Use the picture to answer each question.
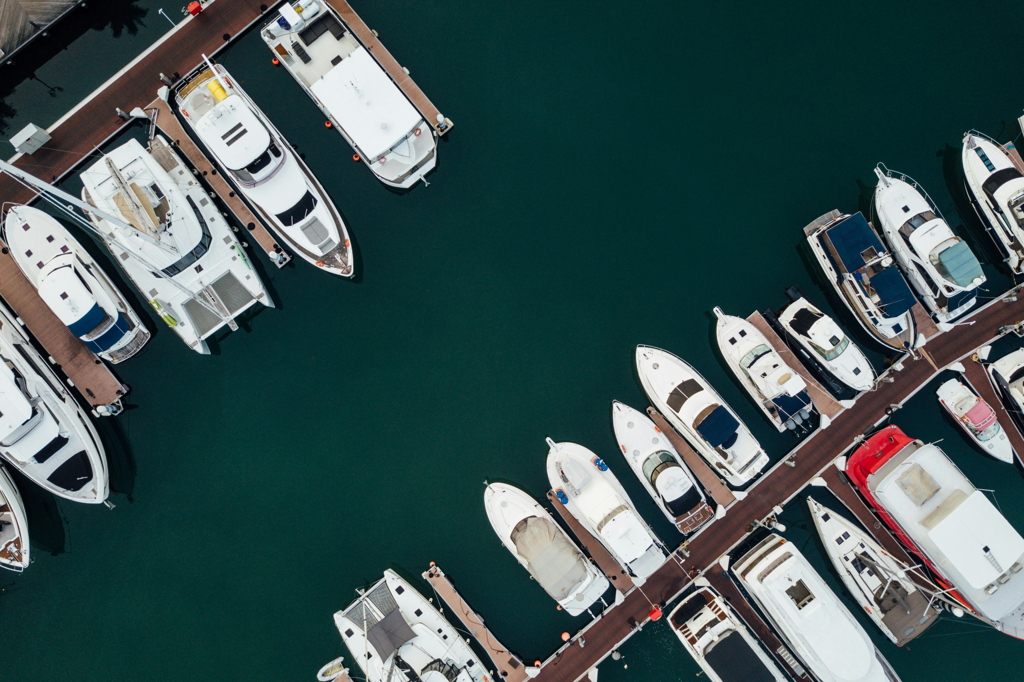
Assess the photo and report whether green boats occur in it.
Yes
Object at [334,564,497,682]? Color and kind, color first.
white boat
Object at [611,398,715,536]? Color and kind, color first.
white boat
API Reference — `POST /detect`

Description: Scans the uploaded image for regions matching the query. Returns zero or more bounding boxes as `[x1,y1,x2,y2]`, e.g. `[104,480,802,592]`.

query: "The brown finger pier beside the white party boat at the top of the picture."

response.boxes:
[326,0,455,138]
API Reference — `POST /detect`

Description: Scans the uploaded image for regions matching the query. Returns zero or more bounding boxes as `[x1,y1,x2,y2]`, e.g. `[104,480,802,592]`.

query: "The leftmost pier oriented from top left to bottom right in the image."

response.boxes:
[0,236,130,416]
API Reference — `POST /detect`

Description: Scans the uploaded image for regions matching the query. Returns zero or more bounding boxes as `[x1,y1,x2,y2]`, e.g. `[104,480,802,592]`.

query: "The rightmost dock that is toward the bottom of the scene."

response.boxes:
[944,345,1024,480]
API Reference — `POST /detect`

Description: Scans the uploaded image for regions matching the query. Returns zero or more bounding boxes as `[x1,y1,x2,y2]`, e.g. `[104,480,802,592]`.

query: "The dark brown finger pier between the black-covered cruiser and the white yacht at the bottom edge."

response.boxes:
[693,554,812,682]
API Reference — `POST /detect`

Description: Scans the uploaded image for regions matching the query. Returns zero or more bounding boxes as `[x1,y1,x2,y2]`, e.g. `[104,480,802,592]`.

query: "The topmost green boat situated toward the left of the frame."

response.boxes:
[234,242,252,270]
